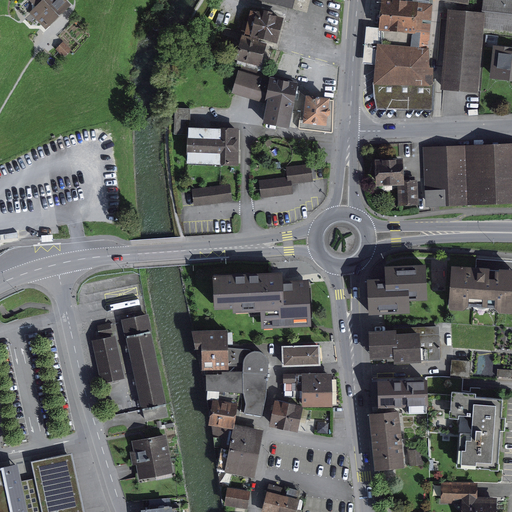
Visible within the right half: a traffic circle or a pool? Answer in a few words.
traffic circle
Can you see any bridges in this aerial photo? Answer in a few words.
Yes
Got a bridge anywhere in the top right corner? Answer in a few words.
No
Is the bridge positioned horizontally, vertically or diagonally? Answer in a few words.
horizontally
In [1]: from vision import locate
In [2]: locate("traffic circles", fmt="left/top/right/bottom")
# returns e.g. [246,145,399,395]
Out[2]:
[308,206,377,274]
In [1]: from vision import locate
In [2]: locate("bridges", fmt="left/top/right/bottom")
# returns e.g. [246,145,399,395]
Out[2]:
[129,236,190,269]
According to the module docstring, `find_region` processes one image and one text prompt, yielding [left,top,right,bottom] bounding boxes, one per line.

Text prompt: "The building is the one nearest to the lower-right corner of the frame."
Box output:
[439,482,497,512]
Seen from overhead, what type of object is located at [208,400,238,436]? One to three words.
house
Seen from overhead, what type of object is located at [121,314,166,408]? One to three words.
building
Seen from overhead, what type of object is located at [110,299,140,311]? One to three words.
vehicle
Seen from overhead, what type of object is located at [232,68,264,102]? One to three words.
barn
